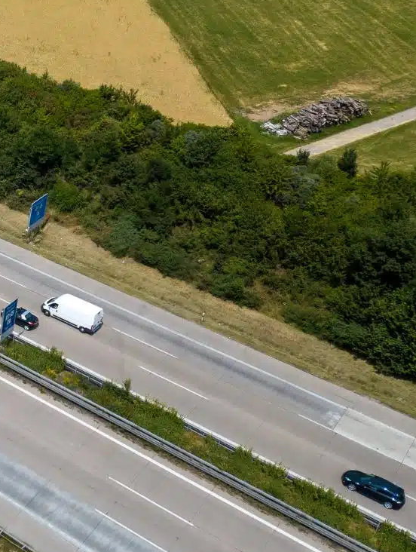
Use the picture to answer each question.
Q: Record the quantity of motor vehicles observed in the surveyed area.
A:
3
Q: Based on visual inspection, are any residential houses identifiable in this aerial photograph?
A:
No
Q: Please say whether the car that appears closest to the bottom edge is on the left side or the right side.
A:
right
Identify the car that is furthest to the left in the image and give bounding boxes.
[13,305,45,330]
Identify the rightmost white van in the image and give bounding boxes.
[44,295,107,336]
